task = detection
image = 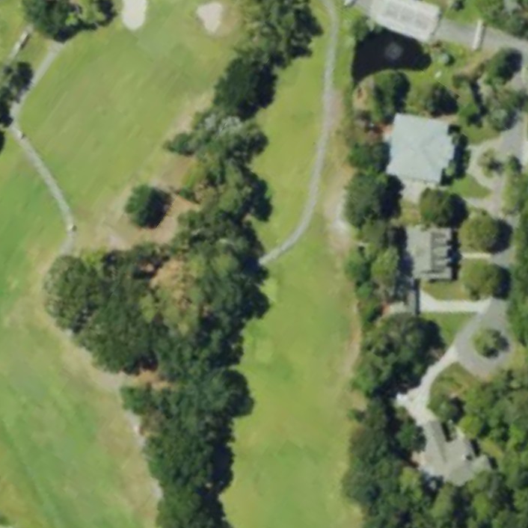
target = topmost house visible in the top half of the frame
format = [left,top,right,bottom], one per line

[380,112,458,181]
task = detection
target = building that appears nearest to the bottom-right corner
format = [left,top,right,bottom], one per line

[417,419,494,487]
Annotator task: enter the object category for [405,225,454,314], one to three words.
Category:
house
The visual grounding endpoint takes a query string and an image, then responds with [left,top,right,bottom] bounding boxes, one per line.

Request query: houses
[417,419,494,487]
[405,225,454,314]
[380,112,458,181]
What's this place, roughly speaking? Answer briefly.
golf course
